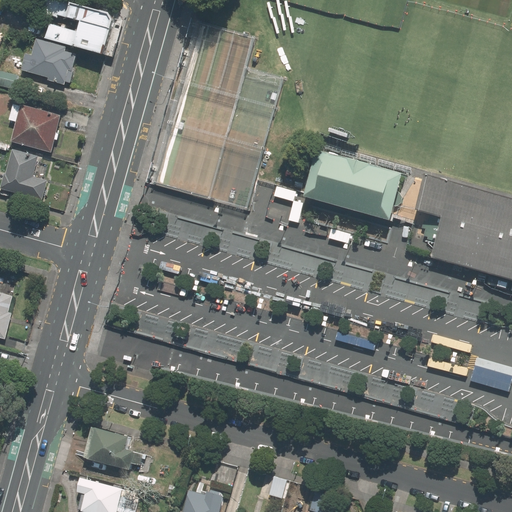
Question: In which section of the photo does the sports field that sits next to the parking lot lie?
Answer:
top right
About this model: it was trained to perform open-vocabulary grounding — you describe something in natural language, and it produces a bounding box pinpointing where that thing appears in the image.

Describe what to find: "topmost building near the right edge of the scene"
[417,174,512,282]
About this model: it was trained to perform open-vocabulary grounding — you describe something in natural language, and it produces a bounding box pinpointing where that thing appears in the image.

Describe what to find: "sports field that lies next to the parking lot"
[273,0,512,190]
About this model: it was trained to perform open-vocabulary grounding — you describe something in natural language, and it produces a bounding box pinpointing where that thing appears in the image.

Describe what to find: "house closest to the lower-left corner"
[76,477,124,512]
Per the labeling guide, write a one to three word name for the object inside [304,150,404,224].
building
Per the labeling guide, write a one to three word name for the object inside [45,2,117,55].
building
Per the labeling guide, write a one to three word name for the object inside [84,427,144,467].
house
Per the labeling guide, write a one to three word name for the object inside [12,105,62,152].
house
